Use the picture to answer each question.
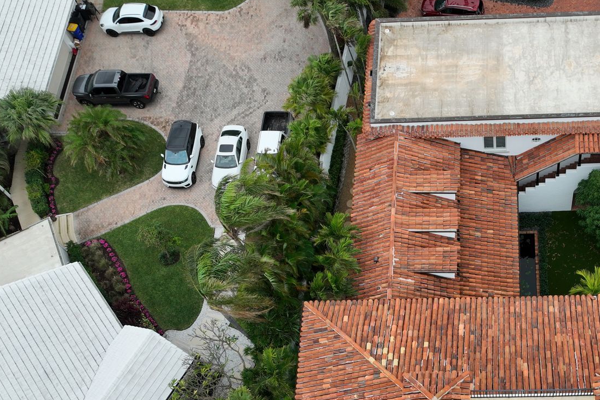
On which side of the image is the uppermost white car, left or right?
left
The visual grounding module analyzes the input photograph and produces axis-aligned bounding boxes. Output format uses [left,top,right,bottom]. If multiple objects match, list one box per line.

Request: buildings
[0,217,205,400]
[0,0,89,129]
[293,10,600,400]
